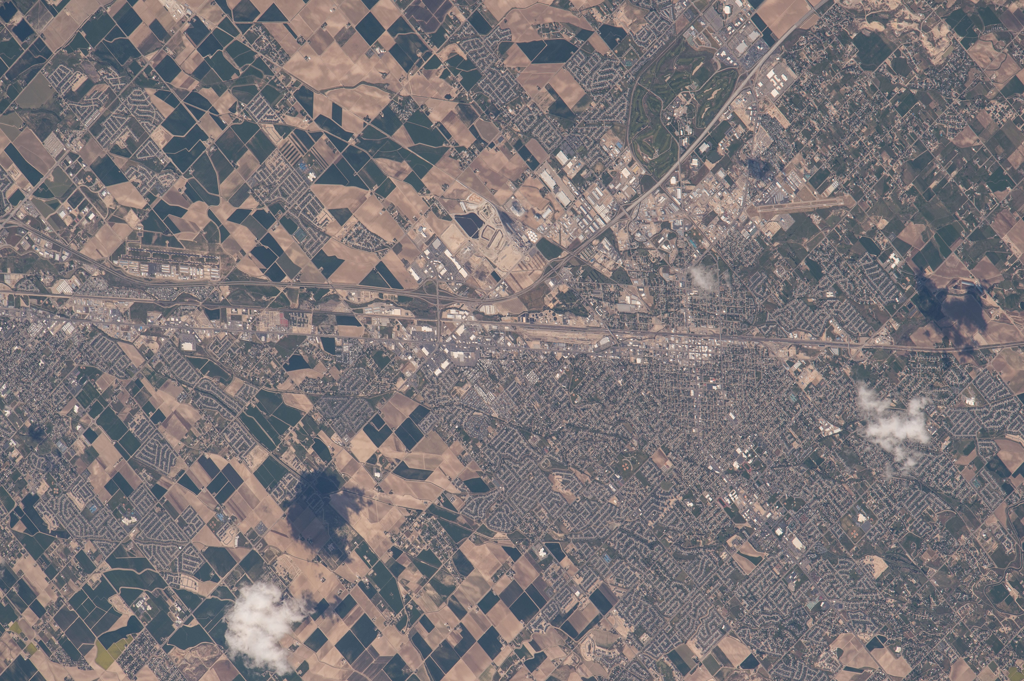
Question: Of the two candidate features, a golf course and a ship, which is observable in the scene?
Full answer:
Visible in the photo is a golf course.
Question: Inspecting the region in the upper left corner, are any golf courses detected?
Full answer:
No, in the upper left corner there is no golf course.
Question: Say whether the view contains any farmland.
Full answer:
Yes, some farmland is visible.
